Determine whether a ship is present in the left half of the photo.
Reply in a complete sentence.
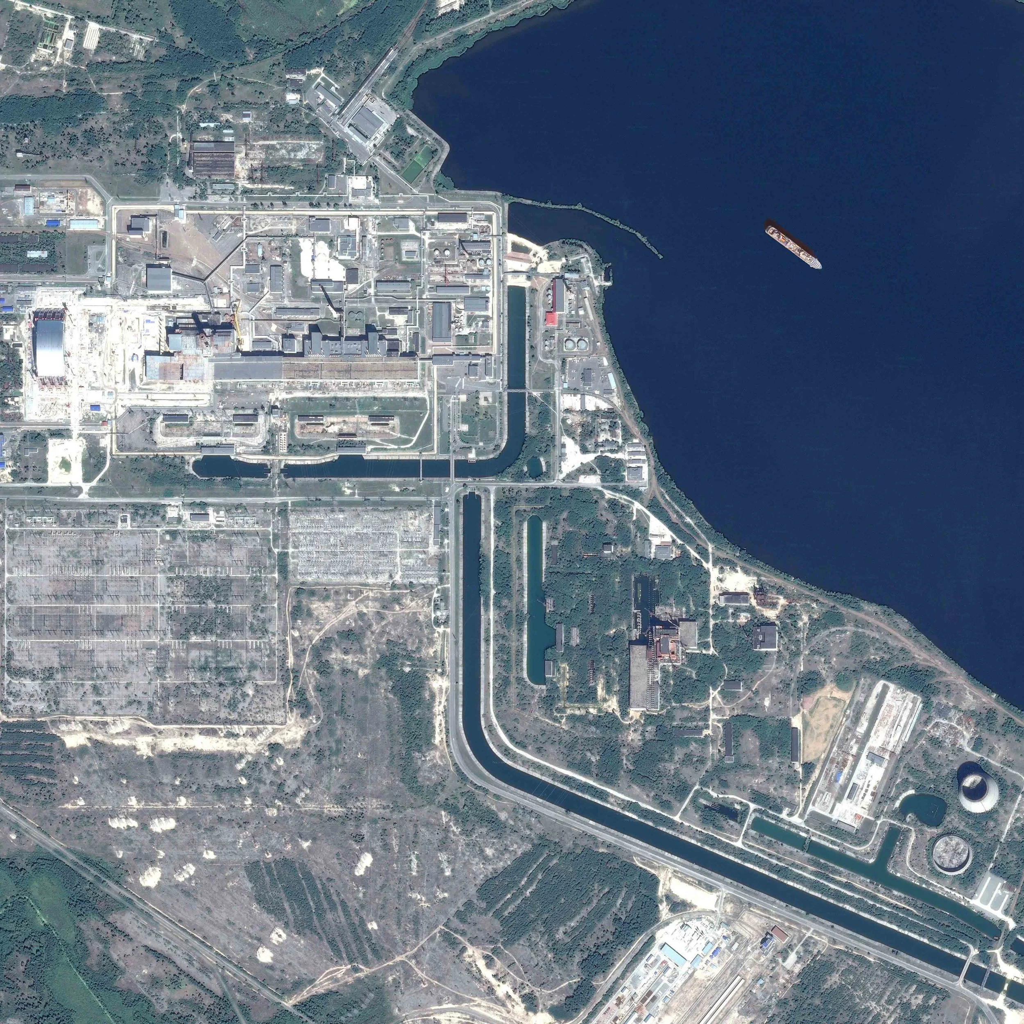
No, I see no ship in the left half of the photo.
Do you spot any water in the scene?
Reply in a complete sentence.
Yes, water shows up in the scene.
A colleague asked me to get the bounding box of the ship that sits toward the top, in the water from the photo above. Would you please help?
[765,227,822,269]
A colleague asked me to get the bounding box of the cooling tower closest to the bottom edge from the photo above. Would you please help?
[931,832,974,875]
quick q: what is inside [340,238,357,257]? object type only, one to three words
building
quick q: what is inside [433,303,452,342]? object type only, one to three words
building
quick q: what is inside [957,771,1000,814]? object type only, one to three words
cooling tower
